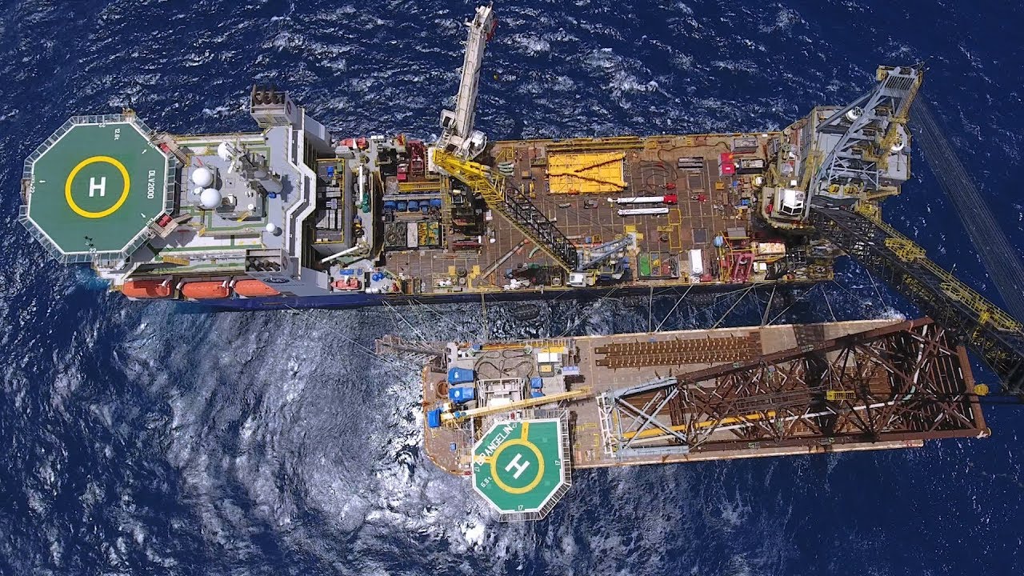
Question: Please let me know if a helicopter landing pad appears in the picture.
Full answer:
Yes, a helicopter landing pad can be made out from above.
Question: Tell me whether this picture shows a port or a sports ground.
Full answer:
It's a port.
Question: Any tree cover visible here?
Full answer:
No, there's no tree cover in this view.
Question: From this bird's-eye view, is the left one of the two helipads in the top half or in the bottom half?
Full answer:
The left one of the two helipads sits in the top half of the picture.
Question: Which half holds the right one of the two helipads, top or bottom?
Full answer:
You can find the right one of the two helipads in the bottom half.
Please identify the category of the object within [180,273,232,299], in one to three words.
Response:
boat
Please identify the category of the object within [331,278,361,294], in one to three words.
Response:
boat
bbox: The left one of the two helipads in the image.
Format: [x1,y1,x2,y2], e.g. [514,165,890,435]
[18,108,183,263]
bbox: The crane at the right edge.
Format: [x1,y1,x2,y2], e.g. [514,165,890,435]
[754,55,1024,400]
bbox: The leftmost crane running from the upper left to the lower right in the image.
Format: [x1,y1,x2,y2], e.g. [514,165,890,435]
[436,148,637,285]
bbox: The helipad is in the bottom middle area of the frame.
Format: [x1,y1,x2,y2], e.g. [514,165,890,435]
[462,400,570,520]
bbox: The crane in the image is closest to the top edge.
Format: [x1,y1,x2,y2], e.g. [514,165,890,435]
[426,6,494,184]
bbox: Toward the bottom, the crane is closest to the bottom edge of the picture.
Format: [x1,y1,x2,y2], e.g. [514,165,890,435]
[437,386,594,438]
